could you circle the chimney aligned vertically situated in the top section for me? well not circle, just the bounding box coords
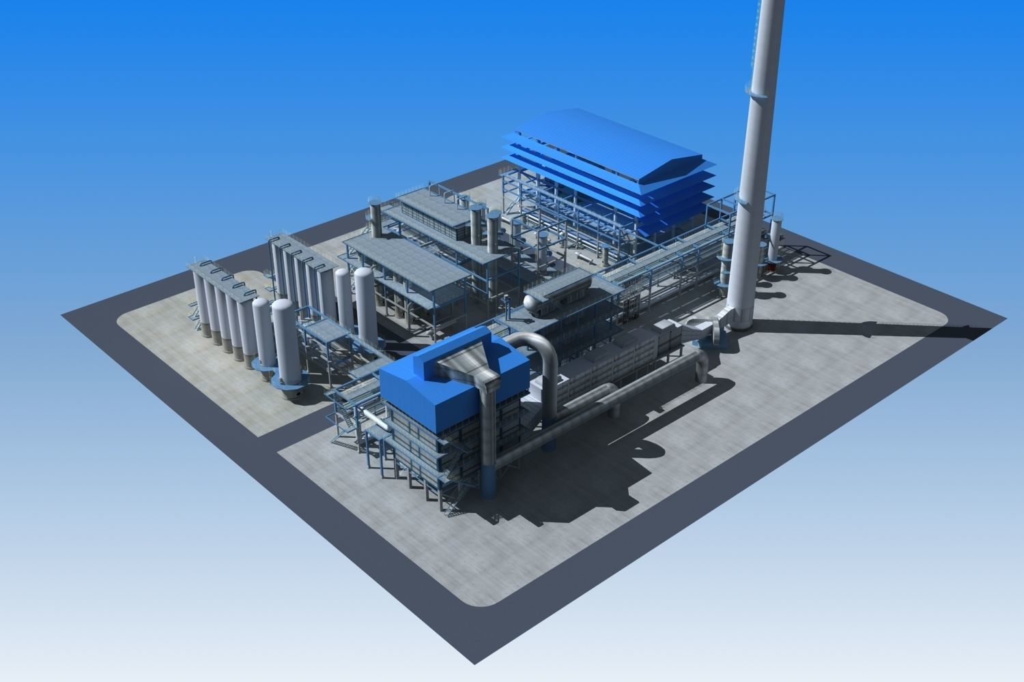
[725,0,787,333]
